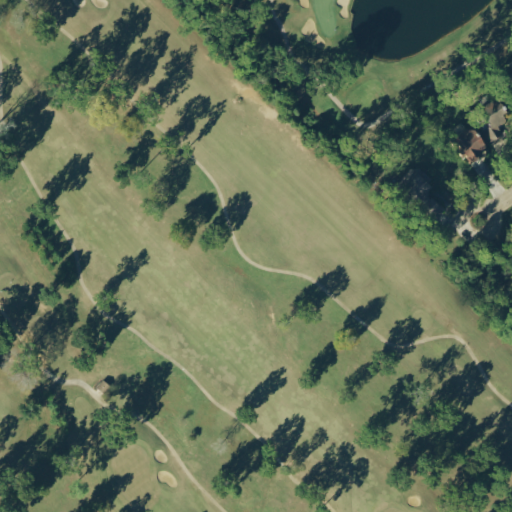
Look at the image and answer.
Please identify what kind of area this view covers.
golf course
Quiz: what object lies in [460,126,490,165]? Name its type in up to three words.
house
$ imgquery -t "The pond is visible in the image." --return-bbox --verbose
[353,0,505,60]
